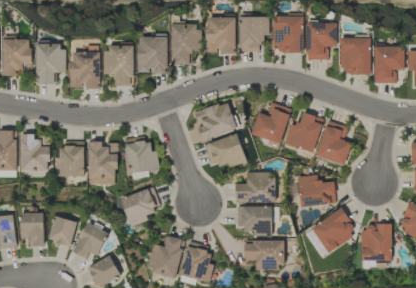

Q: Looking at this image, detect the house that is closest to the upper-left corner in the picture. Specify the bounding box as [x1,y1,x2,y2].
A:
[1,34,32,76]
